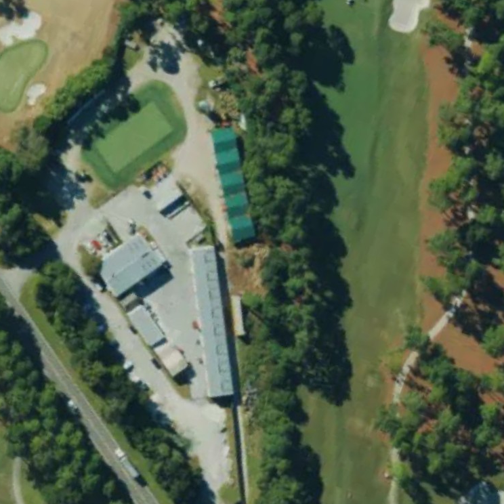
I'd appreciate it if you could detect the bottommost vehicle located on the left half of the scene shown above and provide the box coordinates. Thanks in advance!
[116,447,141,480]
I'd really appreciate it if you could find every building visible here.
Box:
[210,128,255,241]
[126,305,165,346]
[100,234,166,298]
[188,247,233,397]
[152,345,187,376]
[150,178,183,212]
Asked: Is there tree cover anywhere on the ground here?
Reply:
Yes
